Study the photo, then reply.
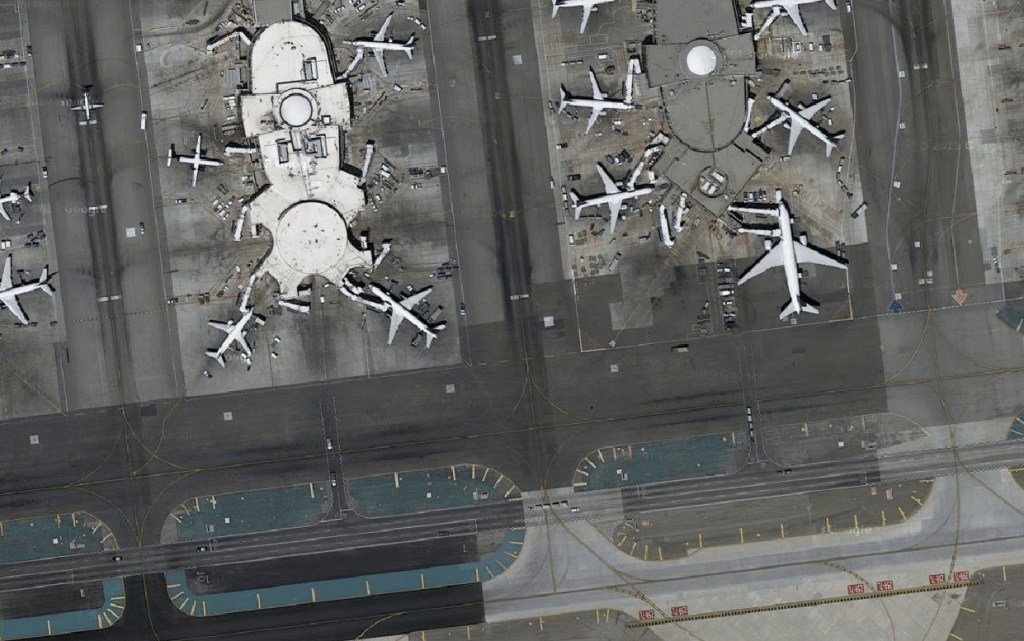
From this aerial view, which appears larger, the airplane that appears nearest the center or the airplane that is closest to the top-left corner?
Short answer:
the airplane that appears nearest the center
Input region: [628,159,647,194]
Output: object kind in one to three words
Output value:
jet bridge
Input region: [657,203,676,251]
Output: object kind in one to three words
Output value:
jet bridge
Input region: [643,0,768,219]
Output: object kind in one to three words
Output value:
building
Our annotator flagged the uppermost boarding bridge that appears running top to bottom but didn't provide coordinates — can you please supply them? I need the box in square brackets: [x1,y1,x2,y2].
[625,57,642,107]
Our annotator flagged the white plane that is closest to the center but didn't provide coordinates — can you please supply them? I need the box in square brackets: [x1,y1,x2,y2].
[370,285,445,348]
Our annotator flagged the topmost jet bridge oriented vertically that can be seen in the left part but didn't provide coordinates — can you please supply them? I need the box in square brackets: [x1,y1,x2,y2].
[358,140,374,187]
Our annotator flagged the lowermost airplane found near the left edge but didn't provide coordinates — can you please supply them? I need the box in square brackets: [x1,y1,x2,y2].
[0,258,50,325]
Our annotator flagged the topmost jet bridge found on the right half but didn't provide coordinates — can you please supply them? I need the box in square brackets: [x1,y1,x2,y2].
[753,5,780,41]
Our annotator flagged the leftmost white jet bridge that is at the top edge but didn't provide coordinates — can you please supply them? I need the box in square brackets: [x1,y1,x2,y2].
[208,30,253,54]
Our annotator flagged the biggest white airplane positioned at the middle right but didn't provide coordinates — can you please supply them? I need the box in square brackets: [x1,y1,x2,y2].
[739,199,848,318]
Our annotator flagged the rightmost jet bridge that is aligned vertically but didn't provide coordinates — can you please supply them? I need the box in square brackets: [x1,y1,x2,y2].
[742,94,757,134]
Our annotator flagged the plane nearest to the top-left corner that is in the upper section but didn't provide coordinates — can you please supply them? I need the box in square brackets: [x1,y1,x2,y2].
[71,88,104,120]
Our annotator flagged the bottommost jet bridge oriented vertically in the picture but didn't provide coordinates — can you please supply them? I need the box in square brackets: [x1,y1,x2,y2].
[241,272,258,313]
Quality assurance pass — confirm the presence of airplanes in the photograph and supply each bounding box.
[208,308,253,365]
[166,135,224,187]
[568,167,652,235]
[739,199,848,318]
[751,0,807,35]
[353,15,418,77]
[767,97,845,157]
[553,0,611,34]
[370,285,445,348]
[71,88,104,120]
[0,258,50,325]
[0,181,34,223]
[558,67,626,134]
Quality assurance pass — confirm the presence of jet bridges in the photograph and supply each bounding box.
[338,286,390,311]
[753,5,780,41]
[337,45,362,81]
[277,299,310,312]
[342,276,368,295]
[725,204,779,216]
[628,159,647,194]
[208,30,253,54]
[625,57,642,107]
[675,192,687,236]
[232,202,249,243]
[749,109,792,139]
[373,239,389,270]
[742,94,757,134]
[241,272,258,313]
[736,227,783,237]
[657,203,676,251]
[358,140,374,187]
[222,146,260,157]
